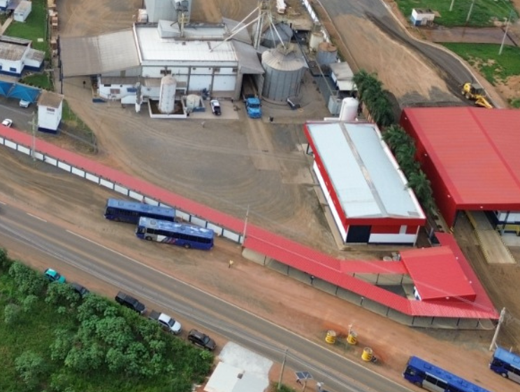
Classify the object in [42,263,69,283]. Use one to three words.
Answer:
car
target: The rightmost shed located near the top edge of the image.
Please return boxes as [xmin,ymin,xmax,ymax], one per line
[410,8,435,28]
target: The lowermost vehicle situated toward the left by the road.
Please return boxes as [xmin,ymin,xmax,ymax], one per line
[185,324,218,350]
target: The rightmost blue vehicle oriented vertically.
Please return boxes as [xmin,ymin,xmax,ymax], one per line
[245,84,261,115]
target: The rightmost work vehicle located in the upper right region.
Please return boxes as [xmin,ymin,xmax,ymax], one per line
[456,79,500,105]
